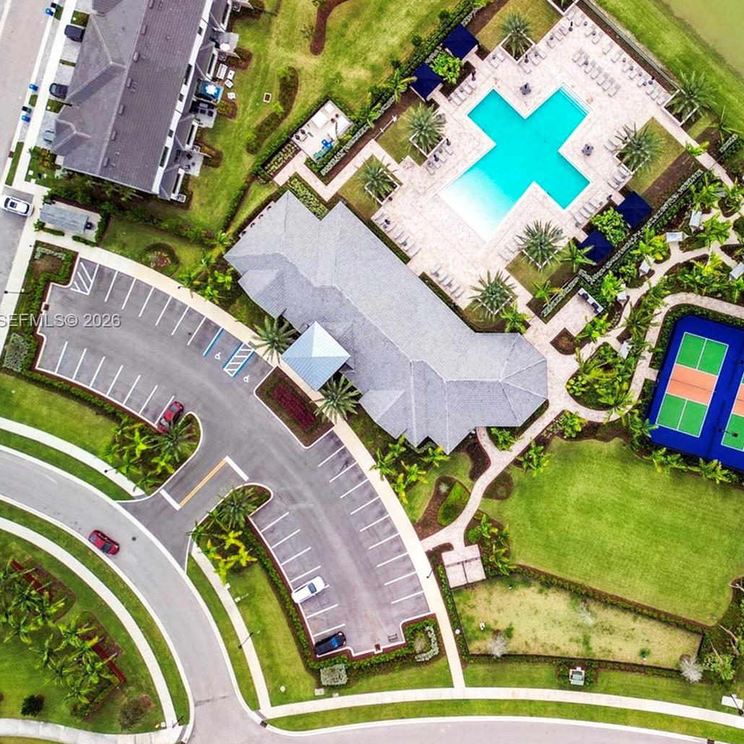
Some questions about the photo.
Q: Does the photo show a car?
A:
Yes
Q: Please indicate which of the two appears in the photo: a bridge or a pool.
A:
pool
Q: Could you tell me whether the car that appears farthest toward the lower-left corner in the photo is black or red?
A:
red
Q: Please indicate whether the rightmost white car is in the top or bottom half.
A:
bottom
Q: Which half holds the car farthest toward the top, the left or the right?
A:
left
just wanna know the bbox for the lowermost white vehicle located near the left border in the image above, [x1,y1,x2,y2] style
[0,195,36,216]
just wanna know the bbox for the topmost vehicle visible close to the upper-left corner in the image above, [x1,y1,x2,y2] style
[58,22,86,42]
